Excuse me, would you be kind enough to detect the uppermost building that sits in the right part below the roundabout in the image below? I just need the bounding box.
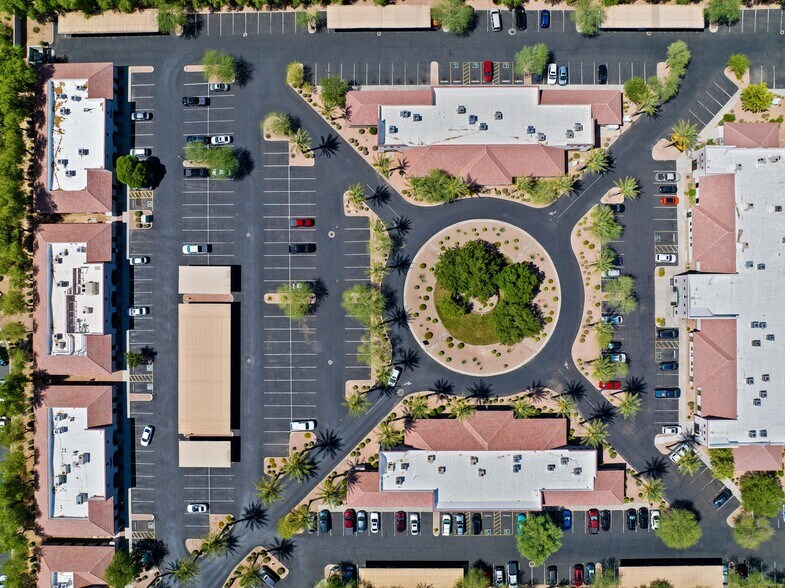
[346,410,626,511]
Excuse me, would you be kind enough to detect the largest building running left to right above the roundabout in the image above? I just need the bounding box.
[346,87,622,186]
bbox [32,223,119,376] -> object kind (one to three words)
building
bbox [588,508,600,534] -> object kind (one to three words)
vehicle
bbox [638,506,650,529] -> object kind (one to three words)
vehicle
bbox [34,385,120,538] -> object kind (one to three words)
building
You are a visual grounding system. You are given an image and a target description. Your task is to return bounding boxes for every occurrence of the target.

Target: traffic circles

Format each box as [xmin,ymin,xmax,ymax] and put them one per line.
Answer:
[403,218,561,376]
